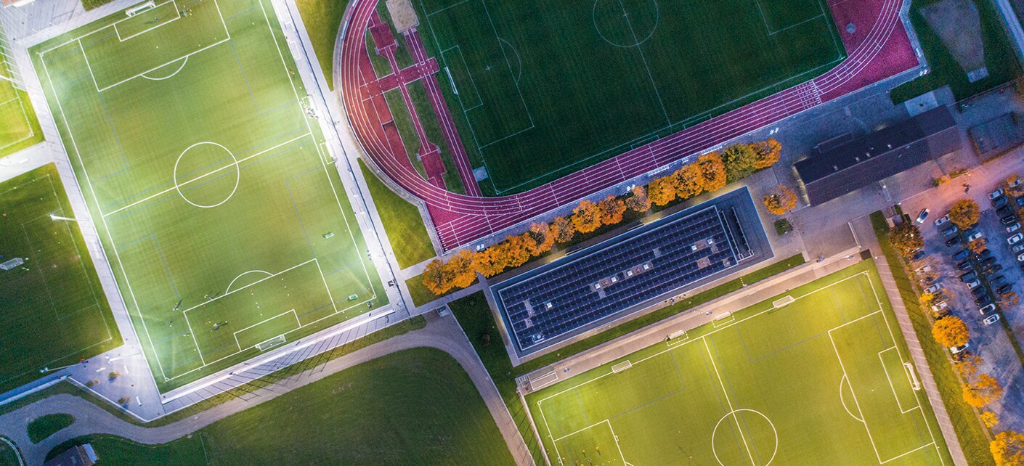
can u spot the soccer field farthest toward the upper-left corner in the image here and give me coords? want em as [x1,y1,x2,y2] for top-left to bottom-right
[0,45,45,157]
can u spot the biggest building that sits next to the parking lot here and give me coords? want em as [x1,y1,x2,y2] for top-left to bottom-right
[489,186,795,359]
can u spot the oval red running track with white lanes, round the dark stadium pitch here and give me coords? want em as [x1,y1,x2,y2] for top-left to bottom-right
[340,0,919,255]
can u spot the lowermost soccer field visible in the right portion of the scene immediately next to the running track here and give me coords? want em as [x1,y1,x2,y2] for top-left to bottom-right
[524,258,955,466]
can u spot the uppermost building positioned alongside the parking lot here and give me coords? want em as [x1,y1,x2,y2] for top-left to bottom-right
[792,104,963,205]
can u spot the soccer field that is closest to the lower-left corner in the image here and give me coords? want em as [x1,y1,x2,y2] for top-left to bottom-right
[0,162,124,394]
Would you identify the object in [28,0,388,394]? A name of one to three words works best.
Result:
soccer field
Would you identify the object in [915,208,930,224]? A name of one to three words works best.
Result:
car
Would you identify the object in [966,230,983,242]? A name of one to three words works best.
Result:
vehicle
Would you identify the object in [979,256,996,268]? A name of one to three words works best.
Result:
vehicle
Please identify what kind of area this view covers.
sports ground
